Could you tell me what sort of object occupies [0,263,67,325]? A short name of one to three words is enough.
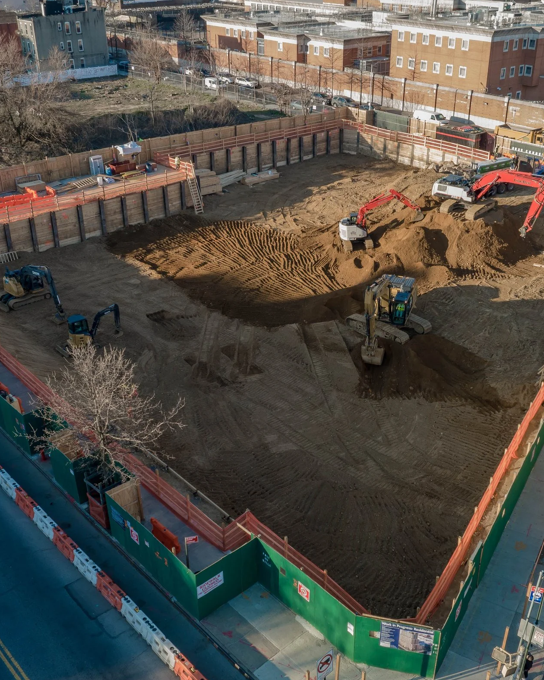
work vehicle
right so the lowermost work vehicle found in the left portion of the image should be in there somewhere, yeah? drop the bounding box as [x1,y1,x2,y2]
[48,305,125,362]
